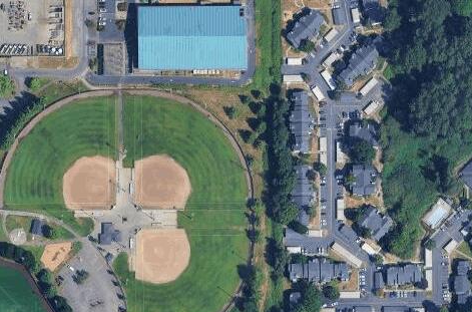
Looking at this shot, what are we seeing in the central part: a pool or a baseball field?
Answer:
baseball field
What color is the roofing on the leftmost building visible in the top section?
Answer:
blue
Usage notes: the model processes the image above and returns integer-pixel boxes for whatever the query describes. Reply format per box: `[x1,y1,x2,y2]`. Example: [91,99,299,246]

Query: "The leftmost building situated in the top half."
[137,4,245,69]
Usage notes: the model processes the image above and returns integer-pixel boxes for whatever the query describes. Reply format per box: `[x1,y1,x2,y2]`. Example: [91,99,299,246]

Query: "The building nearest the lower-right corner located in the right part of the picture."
[452,278,472,298]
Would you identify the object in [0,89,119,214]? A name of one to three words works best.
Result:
baseball field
